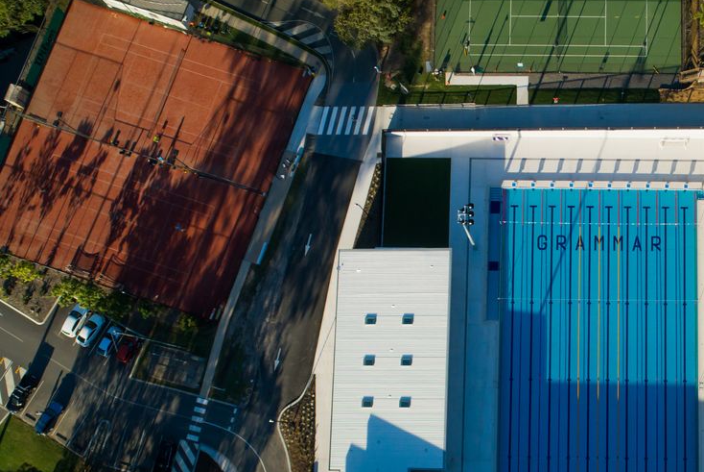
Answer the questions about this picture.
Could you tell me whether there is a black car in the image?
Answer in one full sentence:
Yes, looking at the shot, I can spot a black car.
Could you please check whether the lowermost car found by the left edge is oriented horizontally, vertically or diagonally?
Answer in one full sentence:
I'd say the lowermost car found by the left edge is aligned diagonally in the picture.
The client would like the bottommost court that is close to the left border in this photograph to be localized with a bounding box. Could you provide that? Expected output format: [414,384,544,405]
[0,114,262,317]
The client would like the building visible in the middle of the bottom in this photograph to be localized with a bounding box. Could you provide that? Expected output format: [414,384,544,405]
[330,248,452,472]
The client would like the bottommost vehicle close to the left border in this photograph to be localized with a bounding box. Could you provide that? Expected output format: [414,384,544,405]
[29,394,65,436]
